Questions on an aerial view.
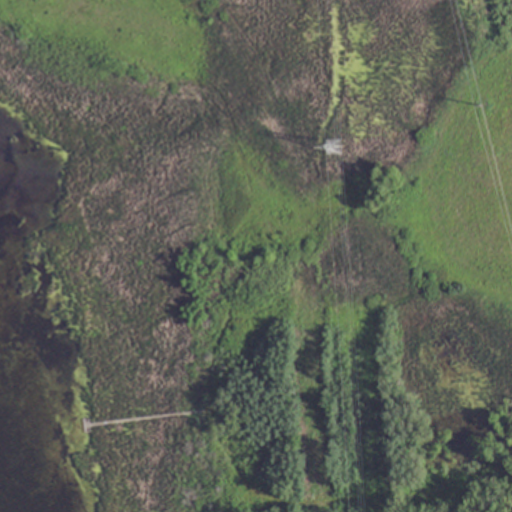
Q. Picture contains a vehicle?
No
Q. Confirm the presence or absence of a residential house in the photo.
No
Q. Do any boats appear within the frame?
No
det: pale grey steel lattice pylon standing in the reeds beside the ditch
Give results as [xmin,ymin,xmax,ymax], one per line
[314,140,344,158]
